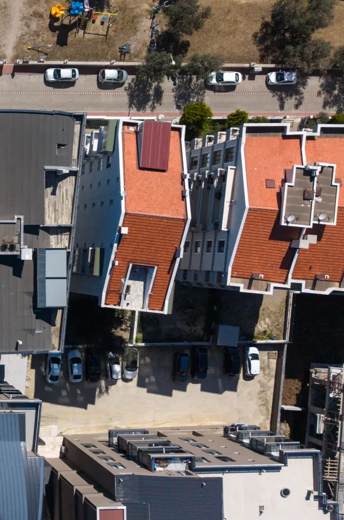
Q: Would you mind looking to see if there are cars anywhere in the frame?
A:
Yes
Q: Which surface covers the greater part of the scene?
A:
buildings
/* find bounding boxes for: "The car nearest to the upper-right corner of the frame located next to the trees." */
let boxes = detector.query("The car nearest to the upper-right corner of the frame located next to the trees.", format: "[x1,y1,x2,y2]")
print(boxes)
[265,70,298,86]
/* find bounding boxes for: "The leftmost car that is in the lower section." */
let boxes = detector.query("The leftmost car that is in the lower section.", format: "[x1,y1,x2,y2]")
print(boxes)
[45,351,63,385]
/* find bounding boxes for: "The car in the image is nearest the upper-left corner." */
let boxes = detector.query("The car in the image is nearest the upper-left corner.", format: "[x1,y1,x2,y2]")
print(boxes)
[44,67,79,83]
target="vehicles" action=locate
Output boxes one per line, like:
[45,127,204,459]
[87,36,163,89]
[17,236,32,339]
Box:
[265,70,298,86]
[105,350,124,381]
[190,347,210,379]
[296,112,314,129]
[122,346,140,378]
[66,349,84,383]
[85,351,103,383]
[222,346,241,377]
[97,69,128,85]
[171,351,191,383]
[45,351,63,385]
[207,72,242,86]
[44,67,79,83]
